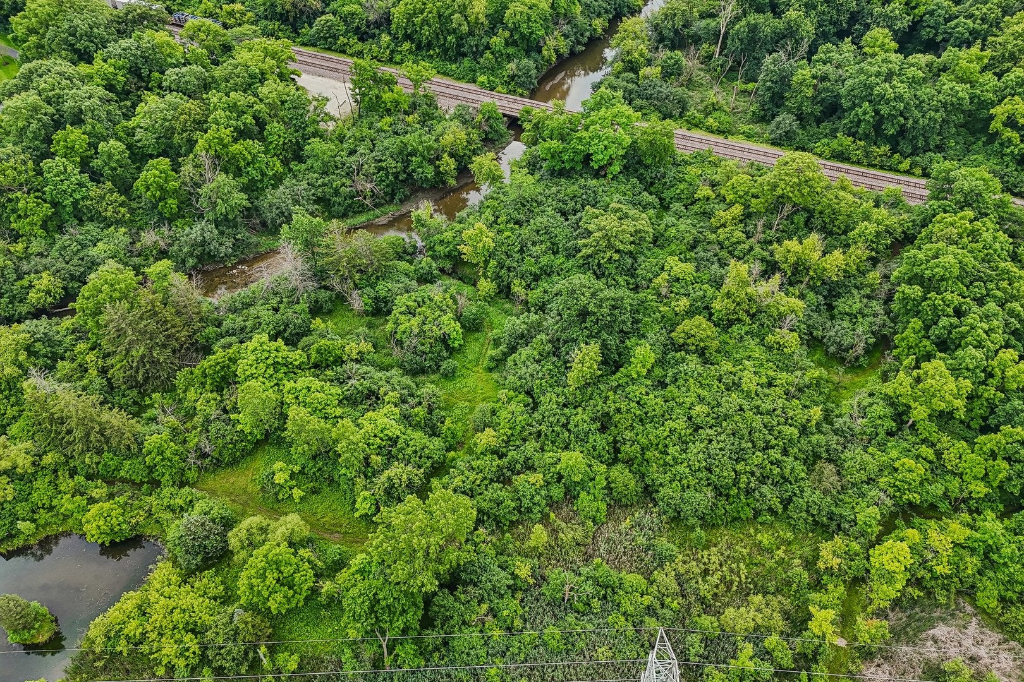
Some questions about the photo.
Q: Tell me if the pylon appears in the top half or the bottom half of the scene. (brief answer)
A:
bottom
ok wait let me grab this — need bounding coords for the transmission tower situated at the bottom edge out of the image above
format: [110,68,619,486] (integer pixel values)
[639,627,683,682]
